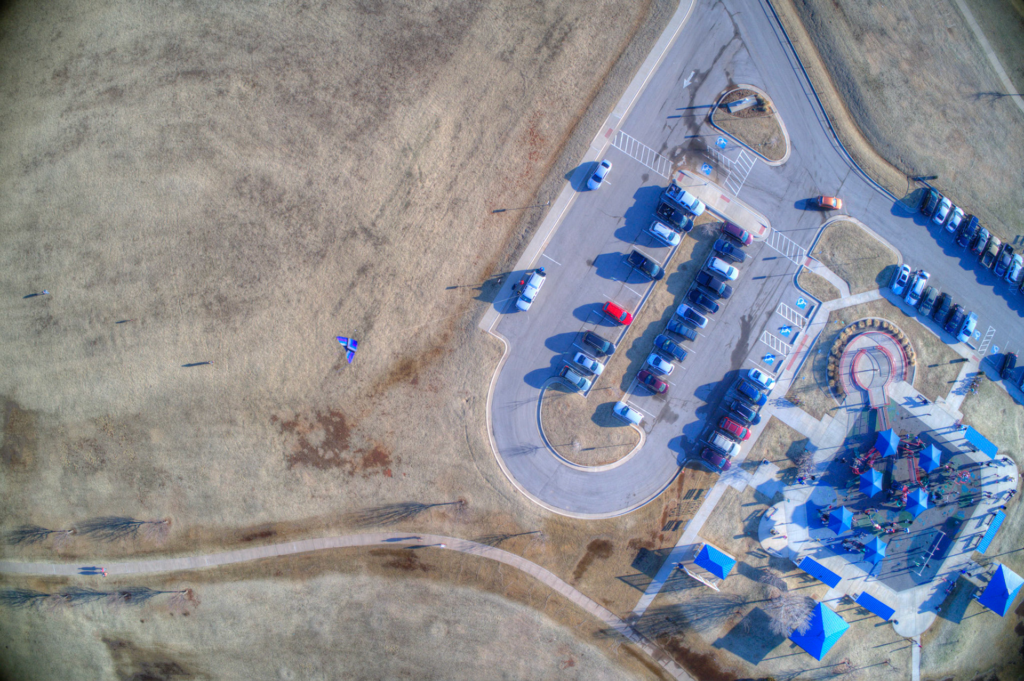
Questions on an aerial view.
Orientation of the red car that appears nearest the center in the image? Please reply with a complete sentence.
The red car that appears nearest the center is laid out diagonally.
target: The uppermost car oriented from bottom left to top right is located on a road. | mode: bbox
[587,158,613,191]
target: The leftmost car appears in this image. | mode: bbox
[517,268,547,309]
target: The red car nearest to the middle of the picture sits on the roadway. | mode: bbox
[601,300,633,327]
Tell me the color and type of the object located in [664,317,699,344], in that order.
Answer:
blue truck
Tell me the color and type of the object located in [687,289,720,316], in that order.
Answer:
blue car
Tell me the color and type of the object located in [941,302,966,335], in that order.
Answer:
blue car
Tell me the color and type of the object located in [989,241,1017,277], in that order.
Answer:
blue truck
